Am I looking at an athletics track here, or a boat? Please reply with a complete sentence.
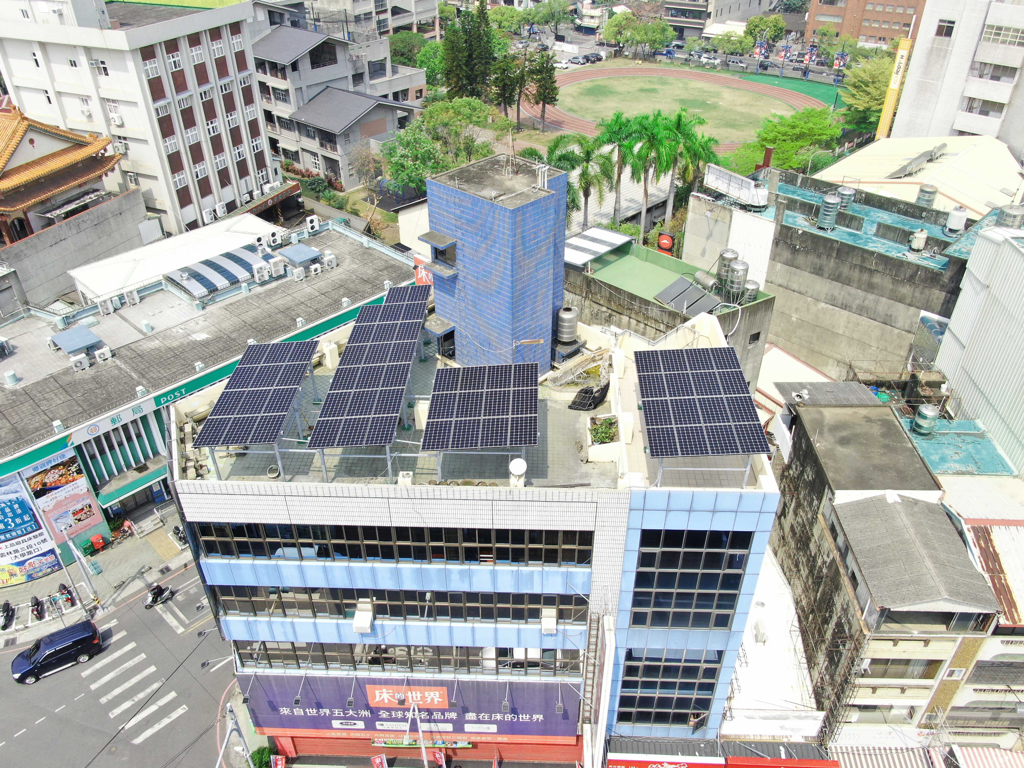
The image shows an athletics track.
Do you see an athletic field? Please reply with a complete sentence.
Yes, the image includes an athletic field.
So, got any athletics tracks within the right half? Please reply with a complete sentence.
Yes, there is an athletics track within the right half.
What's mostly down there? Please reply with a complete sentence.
For the most part, this view shows buildings.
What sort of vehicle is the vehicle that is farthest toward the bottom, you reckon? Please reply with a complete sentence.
The vehicle that is farthest toward the bottom appears to be a car.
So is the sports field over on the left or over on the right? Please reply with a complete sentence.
The sports field sits on the right side.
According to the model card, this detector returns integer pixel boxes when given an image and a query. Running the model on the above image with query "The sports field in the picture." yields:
[555,75,802,143]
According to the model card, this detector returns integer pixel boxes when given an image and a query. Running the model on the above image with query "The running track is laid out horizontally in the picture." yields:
[520,68,842,154]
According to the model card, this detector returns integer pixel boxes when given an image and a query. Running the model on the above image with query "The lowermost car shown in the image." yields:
[5,618,100,688]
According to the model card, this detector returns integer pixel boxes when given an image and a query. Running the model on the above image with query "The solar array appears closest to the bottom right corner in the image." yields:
[634,347,769,485]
